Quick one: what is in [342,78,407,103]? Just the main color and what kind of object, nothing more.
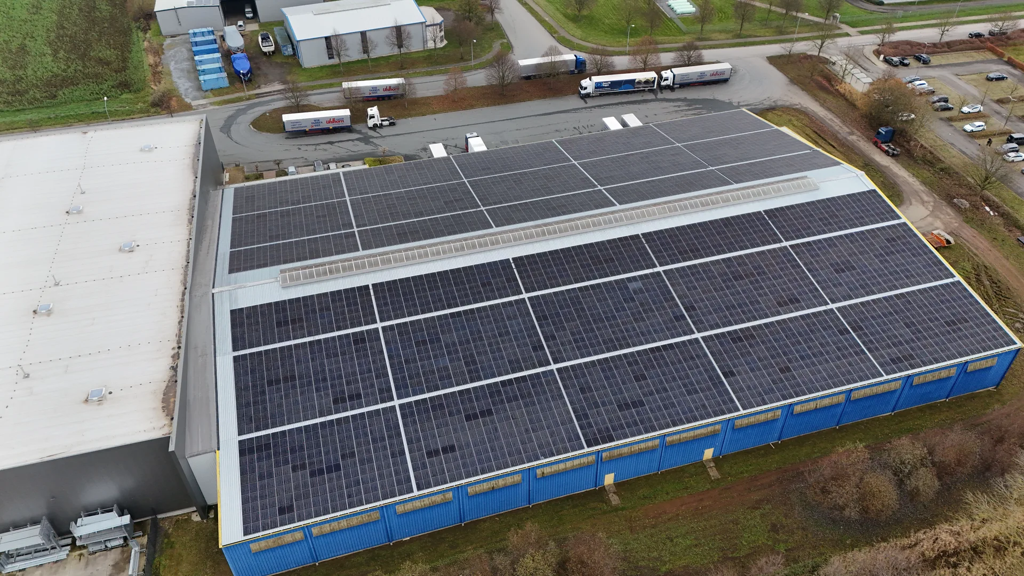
gray trailer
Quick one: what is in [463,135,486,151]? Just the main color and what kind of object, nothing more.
white vehicle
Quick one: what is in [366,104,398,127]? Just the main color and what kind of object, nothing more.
white truck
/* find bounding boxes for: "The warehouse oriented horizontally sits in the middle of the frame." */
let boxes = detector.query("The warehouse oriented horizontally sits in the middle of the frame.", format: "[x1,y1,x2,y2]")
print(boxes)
[210,108,1024,576]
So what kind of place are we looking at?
industrial area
